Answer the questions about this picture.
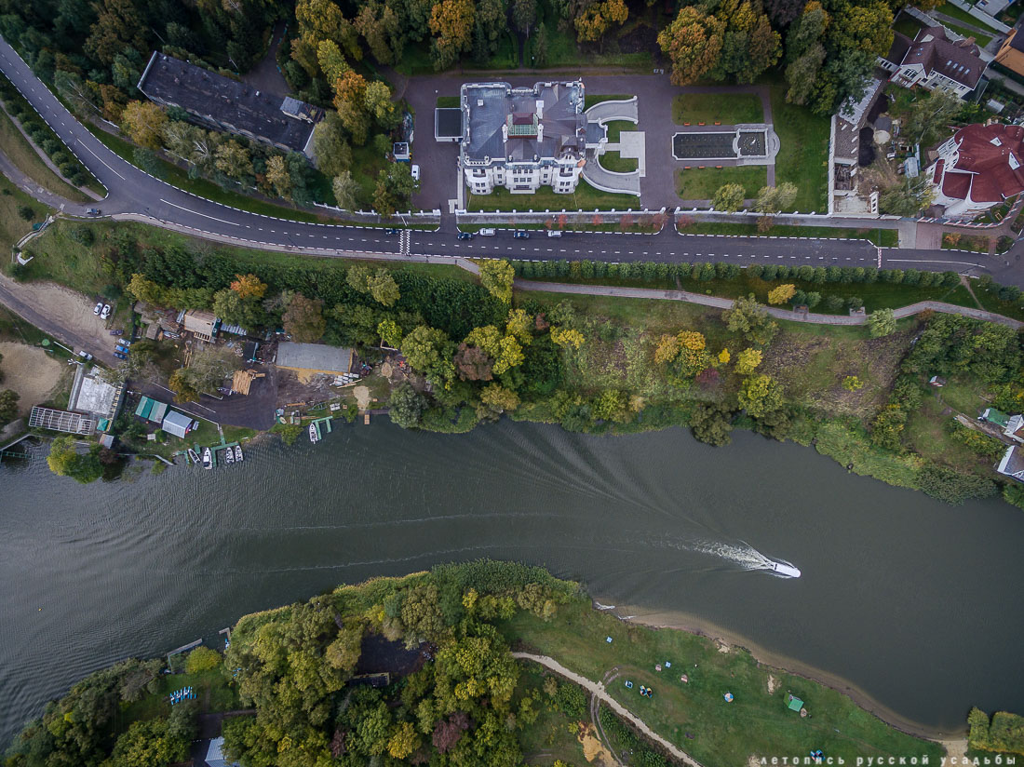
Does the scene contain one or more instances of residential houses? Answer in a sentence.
Yes, the frame does contain a residential house.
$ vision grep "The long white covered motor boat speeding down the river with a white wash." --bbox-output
[765,560,802,578]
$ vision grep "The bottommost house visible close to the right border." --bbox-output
[989,444,1024,486]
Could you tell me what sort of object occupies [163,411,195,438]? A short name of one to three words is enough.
shed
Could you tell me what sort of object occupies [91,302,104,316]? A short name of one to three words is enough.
vehicle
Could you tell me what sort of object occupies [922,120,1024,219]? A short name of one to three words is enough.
house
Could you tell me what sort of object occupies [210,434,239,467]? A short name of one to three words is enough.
pier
